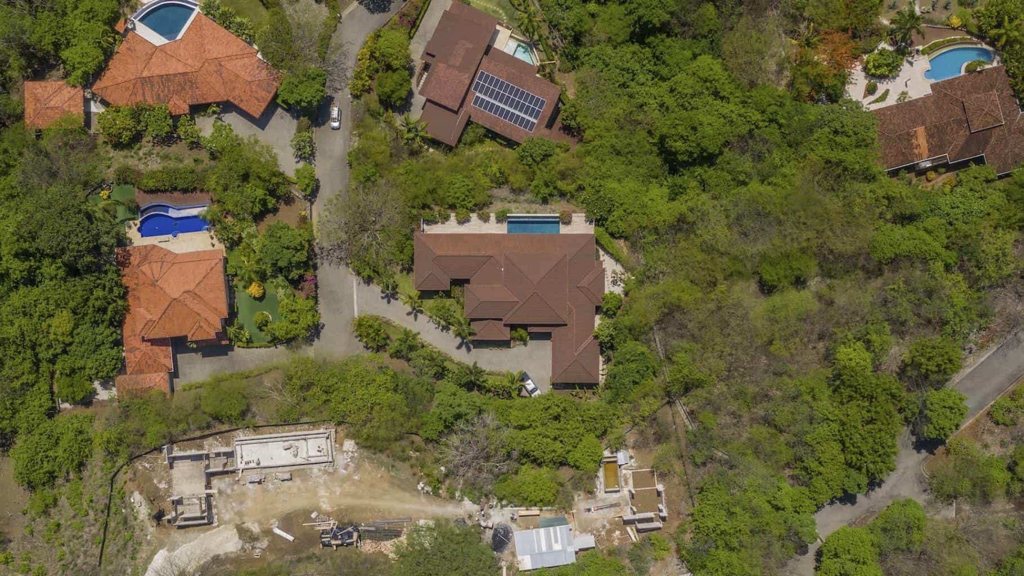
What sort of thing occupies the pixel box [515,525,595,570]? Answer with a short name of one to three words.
shed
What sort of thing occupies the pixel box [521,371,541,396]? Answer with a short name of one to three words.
vehicle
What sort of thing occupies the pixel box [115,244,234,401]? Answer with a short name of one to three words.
house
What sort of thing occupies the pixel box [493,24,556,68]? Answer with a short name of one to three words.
swimming pool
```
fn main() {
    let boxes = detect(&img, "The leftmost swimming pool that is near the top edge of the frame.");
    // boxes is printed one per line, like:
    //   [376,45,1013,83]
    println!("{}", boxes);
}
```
[129,0,201,46]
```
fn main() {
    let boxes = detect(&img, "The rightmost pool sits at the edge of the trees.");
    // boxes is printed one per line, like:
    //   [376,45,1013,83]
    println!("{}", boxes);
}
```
[847,34,1002,108]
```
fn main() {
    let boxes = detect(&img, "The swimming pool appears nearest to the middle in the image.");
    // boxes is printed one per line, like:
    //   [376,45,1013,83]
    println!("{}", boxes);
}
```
[420,211,595,234]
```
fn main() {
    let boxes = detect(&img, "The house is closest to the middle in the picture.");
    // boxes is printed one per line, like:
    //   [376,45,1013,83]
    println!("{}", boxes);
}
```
[414,234,605,383]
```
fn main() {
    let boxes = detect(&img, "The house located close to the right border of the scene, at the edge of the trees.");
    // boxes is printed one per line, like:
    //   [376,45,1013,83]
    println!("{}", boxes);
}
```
[868,65,1024,176]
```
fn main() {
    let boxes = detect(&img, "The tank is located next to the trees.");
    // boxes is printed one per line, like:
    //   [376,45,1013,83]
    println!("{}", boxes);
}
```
[601,454,622,493]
